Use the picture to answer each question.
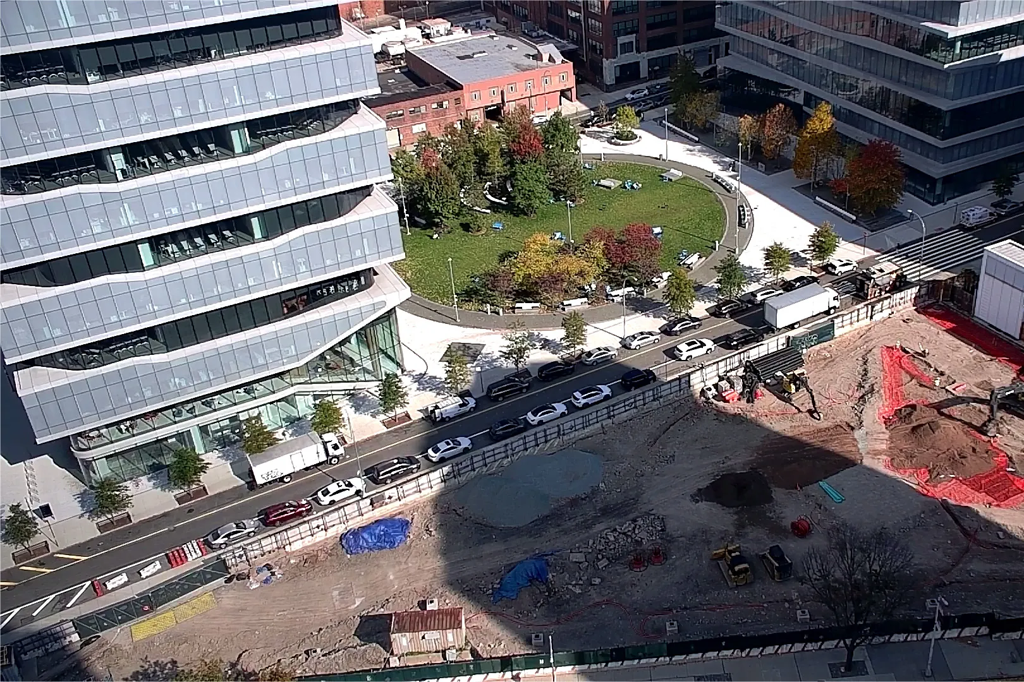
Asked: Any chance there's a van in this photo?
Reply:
Yes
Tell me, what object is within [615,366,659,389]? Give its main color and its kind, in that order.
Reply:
black car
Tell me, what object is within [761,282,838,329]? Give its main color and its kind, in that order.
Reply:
white truck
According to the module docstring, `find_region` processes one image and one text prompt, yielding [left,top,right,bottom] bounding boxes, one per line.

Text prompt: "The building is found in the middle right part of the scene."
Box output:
[974,240,1024,340]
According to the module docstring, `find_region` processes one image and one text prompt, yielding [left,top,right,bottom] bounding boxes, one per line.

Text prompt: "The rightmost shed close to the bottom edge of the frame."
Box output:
[381,598,463,661]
